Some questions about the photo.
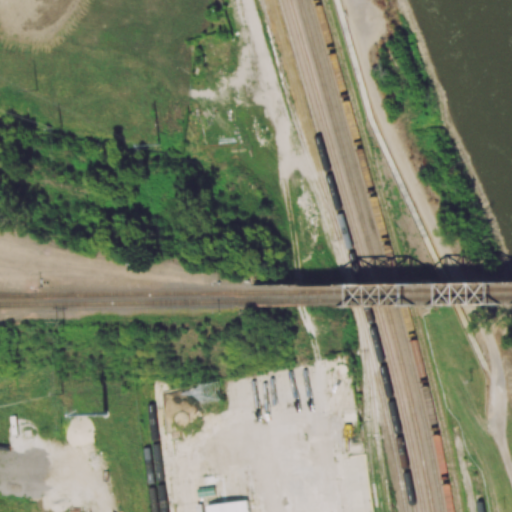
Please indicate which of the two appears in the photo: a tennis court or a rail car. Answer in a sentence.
Looking from above, you can make out a rail car.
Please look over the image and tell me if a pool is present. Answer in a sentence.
No, the frame has no pool in it.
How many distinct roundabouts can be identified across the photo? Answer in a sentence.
There are no roundabouts in the image.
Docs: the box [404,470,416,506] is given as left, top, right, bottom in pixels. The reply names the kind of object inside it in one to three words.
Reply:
rail car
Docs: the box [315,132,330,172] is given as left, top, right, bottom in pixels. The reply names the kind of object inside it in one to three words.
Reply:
rail car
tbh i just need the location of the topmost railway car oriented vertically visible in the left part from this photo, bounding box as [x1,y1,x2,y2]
[148,401,162,442]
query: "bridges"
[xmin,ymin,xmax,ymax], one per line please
[249,282,512,308]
